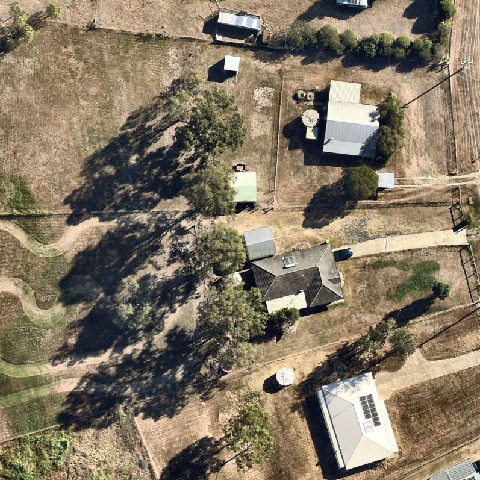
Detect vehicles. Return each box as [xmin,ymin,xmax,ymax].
[333,250,354,261]
[337,0,368,9]
[473,460,480,470]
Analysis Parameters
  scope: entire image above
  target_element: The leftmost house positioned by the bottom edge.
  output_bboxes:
[316,372,399,470]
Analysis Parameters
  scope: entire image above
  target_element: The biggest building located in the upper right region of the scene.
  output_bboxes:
[323,80,379,159]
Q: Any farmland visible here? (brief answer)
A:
Yes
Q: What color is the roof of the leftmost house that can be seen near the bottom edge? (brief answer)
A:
white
